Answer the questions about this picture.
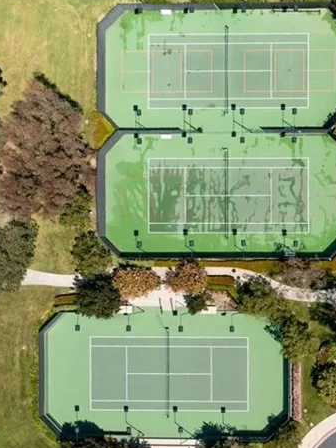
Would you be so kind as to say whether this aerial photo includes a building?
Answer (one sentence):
No, the frame has no building in it.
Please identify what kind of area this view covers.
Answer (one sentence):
The area seen from above is a sports ground.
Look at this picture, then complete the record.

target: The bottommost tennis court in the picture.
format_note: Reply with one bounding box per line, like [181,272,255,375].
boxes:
[48,311,289,438]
